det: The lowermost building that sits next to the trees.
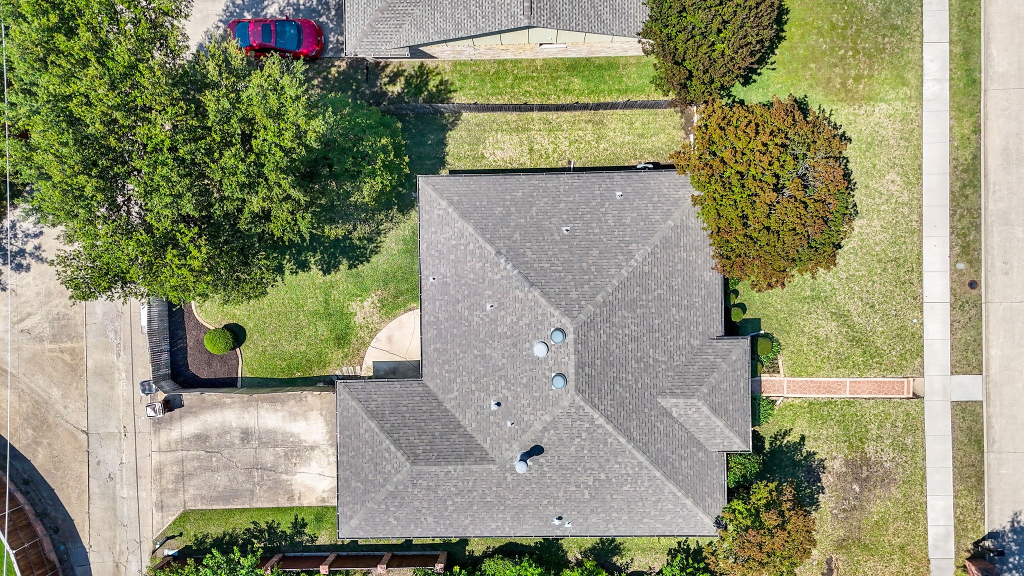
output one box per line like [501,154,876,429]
[336,171,751,540]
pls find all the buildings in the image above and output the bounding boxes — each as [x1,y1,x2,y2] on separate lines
[336,171,751,540]
[340,0,657,61]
